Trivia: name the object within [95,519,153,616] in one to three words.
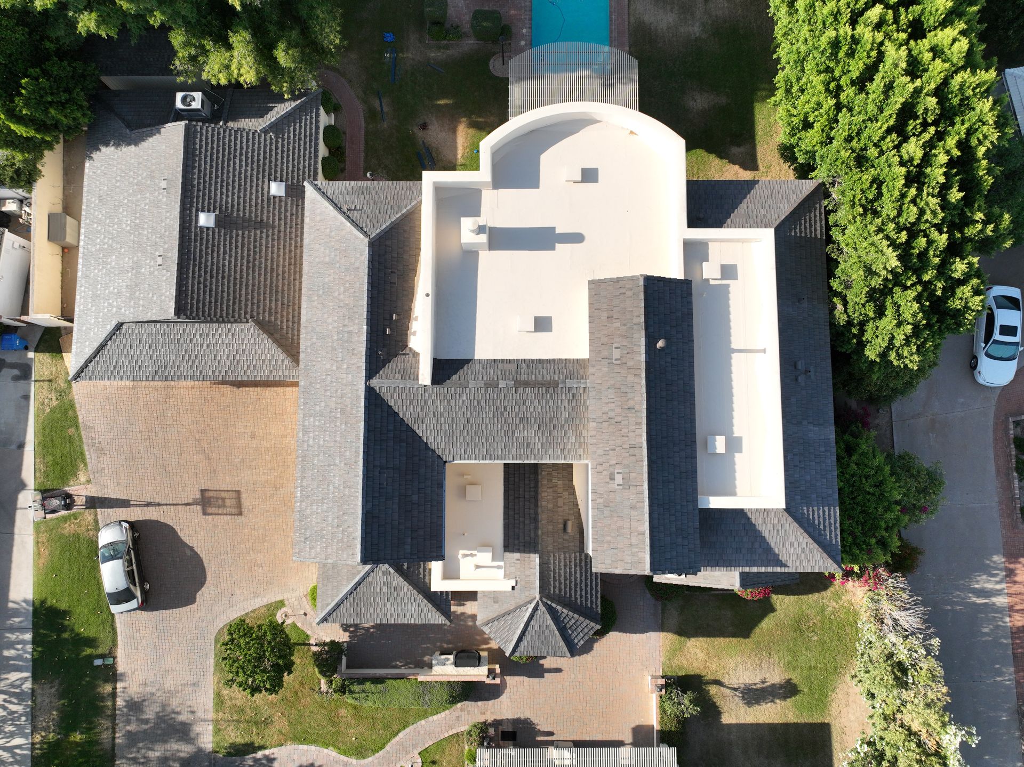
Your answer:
car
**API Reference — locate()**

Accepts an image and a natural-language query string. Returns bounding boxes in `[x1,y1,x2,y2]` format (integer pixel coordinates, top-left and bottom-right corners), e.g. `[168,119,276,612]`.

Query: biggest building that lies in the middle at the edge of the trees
[292,103,844,658]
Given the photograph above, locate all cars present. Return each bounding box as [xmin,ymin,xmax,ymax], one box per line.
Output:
[969,288,1023,385]
[95,519,153,616]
